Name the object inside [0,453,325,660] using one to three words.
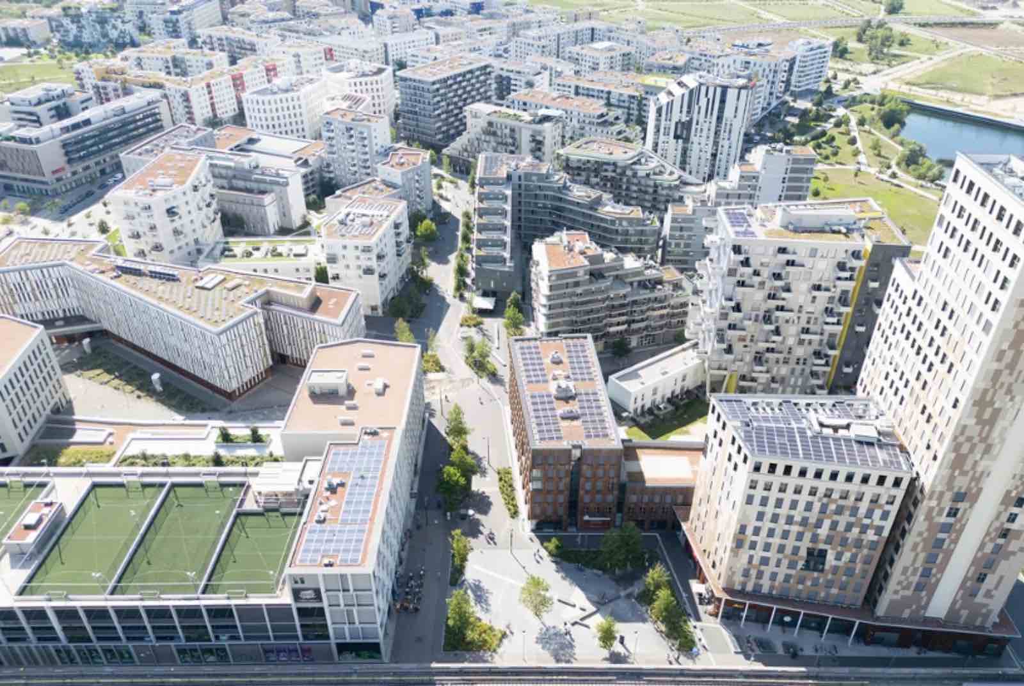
building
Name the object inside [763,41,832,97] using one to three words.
house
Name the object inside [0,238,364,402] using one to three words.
building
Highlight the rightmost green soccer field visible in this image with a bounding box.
[191,499,307,595]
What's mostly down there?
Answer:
buildings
